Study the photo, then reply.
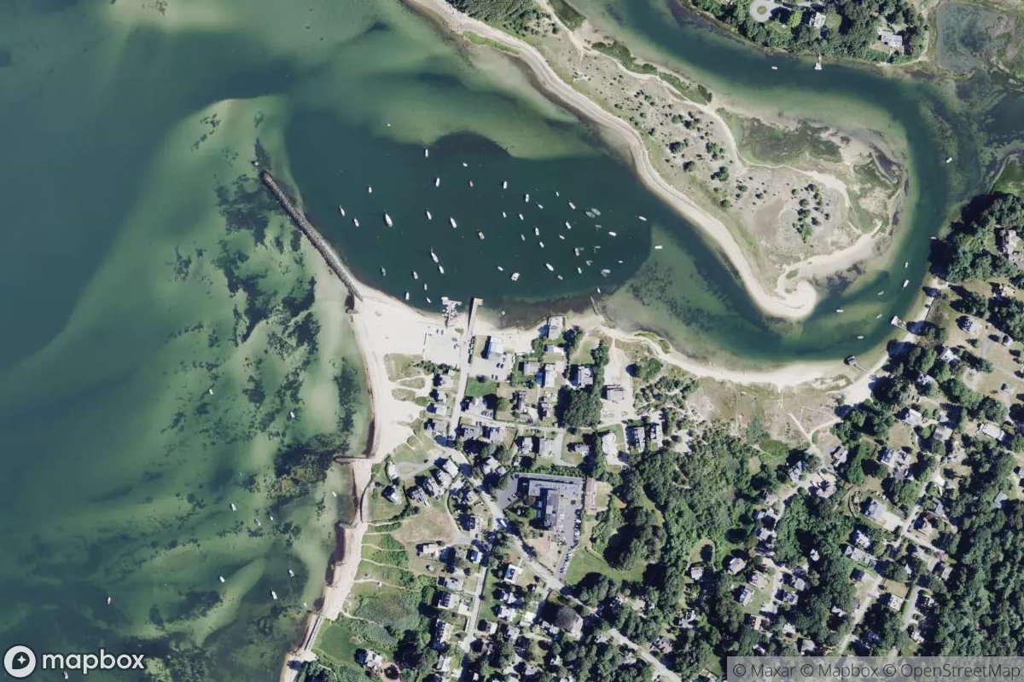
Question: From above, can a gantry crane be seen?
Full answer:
No, no gantry crane is visible in the scene.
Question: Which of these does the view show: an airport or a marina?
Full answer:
It's a marina.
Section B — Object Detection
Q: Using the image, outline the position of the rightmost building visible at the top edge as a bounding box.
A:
[880,30,904,48]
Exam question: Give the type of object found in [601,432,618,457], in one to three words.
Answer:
house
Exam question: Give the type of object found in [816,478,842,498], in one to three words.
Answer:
house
